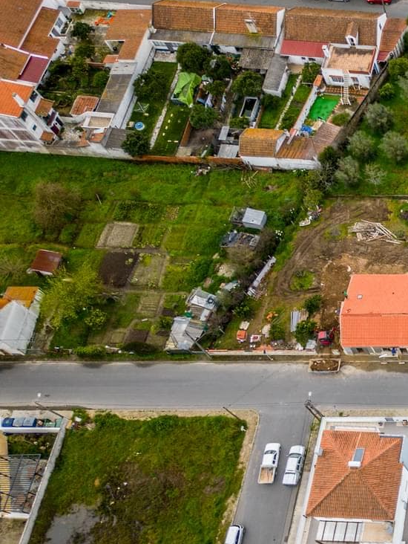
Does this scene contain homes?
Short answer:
Yes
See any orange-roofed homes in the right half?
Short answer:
Yes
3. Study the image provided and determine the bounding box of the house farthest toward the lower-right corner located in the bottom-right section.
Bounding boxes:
[306,426,408,544]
